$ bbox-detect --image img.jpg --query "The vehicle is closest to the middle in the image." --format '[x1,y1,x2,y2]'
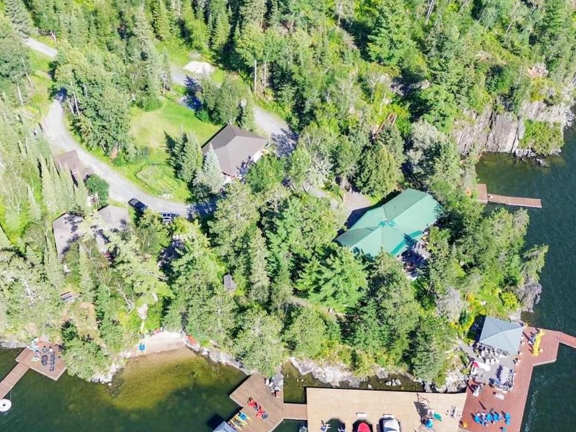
[157,207,181,219]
